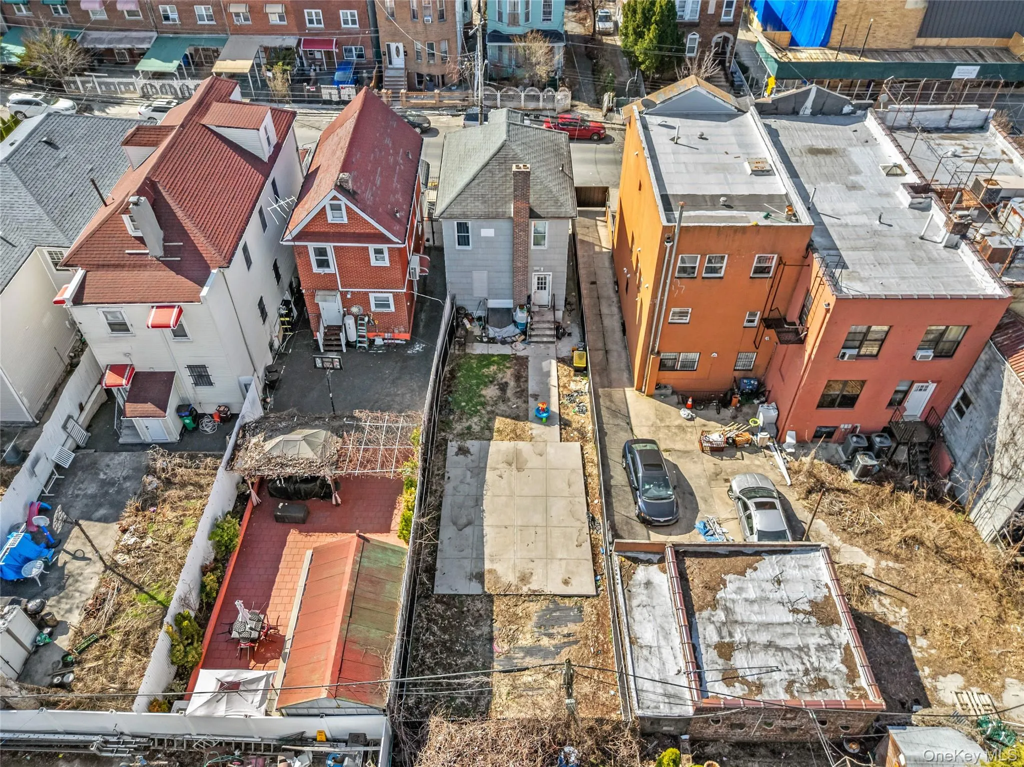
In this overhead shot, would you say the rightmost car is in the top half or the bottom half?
bottom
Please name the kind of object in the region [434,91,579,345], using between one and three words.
house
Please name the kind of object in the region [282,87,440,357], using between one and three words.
house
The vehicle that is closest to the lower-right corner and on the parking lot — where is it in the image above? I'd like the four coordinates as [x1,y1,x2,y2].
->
[740,475,797,538]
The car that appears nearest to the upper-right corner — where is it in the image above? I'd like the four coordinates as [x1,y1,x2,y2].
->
[595,7,616,33]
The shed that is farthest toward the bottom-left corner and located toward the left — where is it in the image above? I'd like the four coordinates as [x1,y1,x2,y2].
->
[0,600,42,665]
